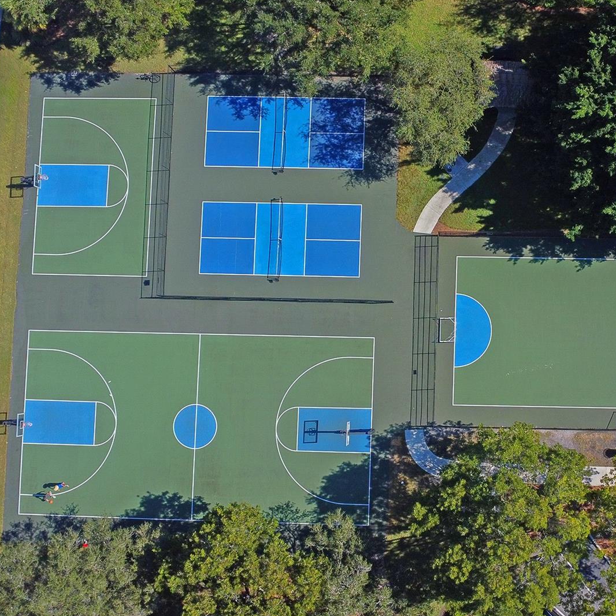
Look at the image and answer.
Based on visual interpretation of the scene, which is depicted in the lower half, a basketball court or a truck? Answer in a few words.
basketball court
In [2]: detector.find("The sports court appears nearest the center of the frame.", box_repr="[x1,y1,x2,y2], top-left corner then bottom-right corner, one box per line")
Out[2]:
[199,201,362,277]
